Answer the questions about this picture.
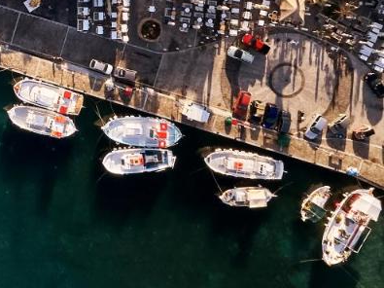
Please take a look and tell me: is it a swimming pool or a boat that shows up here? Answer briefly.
boat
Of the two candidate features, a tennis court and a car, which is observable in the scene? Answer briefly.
car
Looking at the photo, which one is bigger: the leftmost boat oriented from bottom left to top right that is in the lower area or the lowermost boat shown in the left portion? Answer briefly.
the lowermost boat shown in the left portion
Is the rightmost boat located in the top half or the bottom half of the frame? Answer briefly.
bottom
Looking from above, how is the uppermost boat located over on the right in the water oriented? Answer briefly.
from left to right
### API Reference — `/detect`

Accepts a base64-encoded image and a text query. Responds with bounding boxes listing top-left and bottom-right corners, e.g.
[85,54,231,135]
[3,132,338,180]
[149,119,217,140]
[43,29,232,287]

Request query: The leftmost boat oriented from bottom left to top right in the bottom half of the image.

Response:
[297,185,328,223]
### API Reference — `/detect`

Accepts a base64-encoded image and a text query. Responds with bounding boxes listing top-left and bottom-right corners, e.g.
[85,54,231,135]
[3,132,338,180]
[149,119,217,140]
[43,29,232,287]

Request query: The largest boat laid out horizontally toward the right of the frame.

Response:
[199,147,289,178]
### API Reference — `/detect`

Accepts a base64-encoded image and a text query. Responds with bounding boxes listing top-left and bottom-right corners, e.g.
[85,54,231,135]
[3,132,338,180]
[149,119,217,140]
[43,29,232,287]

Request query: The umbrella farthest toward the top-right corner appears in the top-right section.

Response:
[276,0,304,23]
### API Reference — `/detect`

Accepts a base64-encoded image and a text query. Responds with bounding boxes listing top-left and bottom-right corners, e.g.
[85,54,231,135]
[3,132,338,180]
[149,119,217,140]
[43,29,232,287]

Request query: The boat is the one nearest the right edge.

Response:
[316,178,384,267]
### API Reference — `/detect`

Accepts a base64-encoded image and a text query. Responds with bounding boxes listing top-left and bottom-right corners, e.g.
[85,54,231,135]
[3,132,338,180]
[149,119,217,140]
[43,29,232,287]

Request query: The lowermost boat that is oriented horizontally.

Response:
[211,170,287,208]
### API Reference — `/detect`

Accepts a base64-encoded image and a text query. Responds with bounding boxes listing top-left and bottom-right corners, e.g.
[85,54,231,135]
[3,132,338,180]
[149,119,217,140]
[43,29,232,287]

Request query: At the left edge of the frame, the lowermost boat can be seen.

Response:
[6,106,79,134]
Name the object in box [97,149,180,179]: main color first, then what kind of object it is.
white boat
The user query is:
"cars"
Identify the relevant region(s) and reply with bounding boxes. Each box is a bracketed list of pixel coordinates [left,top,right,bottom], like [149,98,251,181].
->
[276,110,292,134]
[230,89,250,121]
[327,112,351,138]
[360,71,384,101]
[113,65,139,81]
[303,112,328,141]
[88,58,114,77]
[246,98,264,127]
[239,33,272,56]
[224,45,255,64]
[259,102,280,130]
